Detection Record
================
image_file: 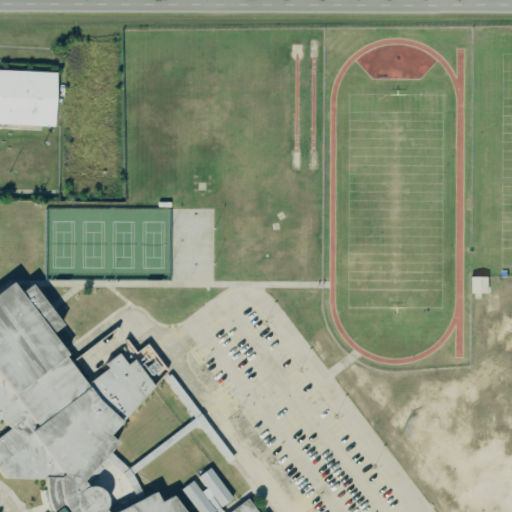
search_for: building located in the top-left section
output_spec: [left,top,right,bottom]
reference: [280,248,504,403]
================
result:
[0,70,60,128]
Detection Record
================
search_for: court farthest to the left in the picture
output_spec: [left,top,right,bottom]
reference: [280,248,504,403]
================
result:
[48,208,79,278]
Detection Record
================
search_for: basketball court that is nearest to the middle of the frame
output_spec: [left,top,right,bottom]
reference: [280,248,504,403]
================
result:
[172,208,214,281]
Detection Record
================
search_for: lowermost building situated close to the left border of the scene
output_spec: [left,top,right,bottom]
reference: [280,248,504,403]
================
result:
[0,282,156,512]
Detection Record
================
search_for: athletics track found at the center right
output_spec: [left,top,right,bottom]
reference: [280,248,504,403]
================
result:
[330,38,464,365]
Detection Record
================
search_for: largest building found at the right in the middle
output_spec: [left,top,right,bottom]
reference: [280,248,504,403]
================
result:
[470,276,492,299]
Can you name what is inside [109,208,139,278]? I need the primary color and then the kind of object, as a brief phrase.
green tennis court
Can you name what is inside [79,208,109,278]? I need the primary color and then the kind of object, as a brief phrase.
green tennis court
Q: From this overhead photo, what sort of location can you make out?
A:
sports ground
